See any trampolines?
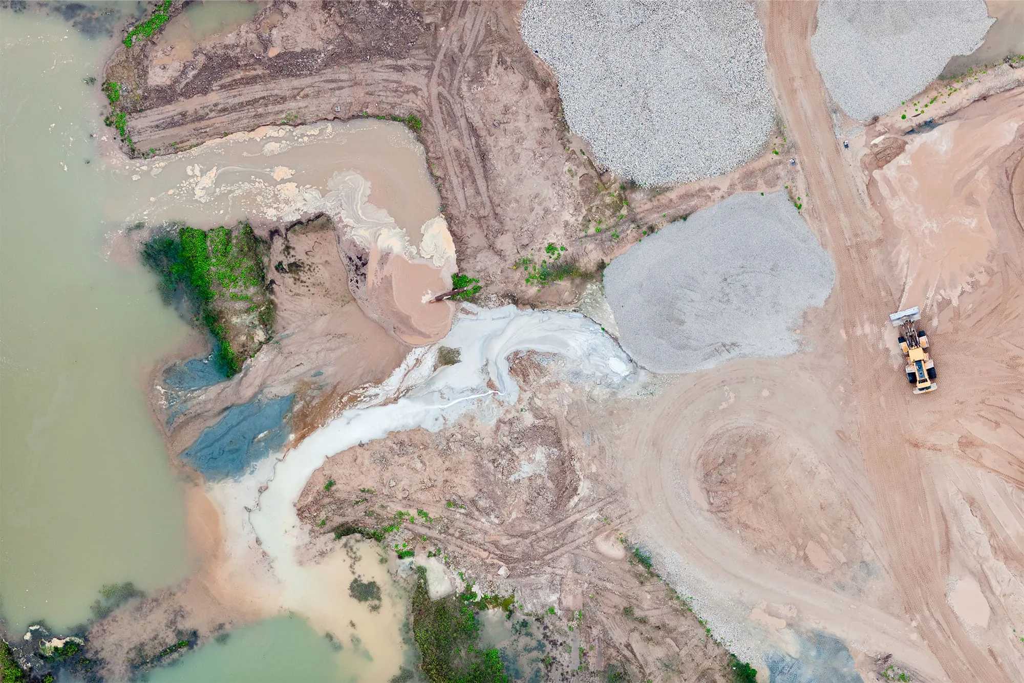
No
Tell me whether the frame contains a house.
No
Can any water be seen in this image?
Yes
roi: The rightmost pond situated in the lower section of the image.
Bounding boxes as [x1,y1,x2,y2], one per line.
[478,604,563,683]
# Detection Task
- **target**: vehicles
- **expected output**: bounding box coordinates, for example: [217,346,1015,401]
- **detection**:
[889,305,939,394]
